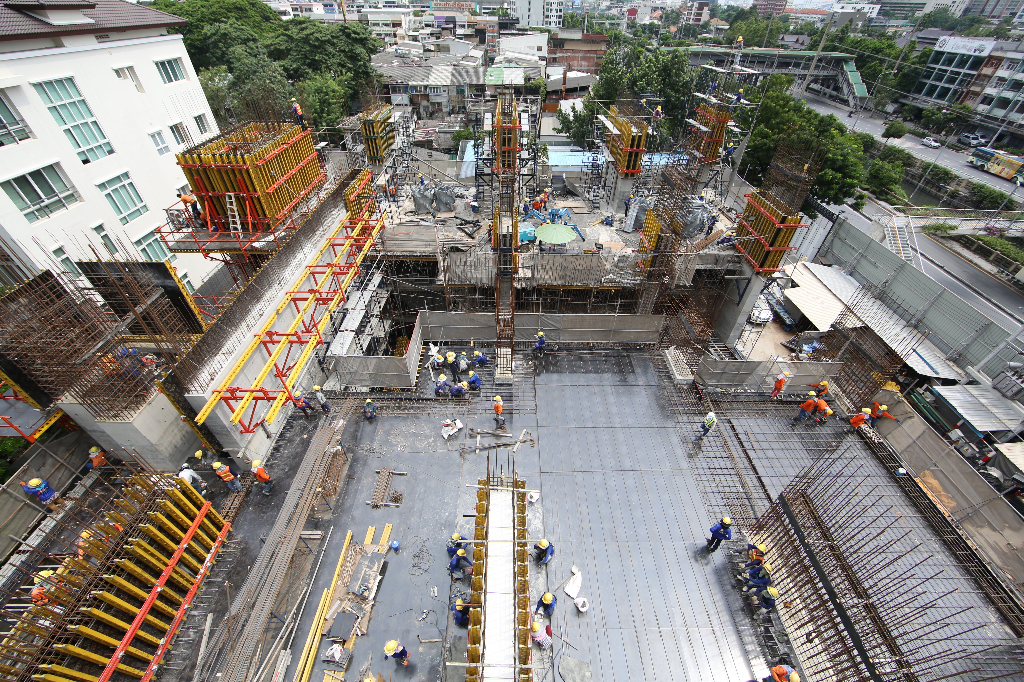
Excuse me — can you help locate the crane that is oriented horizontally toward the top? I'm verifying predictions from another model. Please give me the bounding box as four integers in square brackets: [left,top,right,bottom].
[526,200,582,227]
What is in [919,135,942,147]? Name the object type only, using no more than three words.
vehicle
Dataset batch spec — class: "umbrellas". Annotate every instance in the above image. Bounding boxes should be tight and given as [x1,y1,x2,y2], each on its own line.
[538,217,579,253]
